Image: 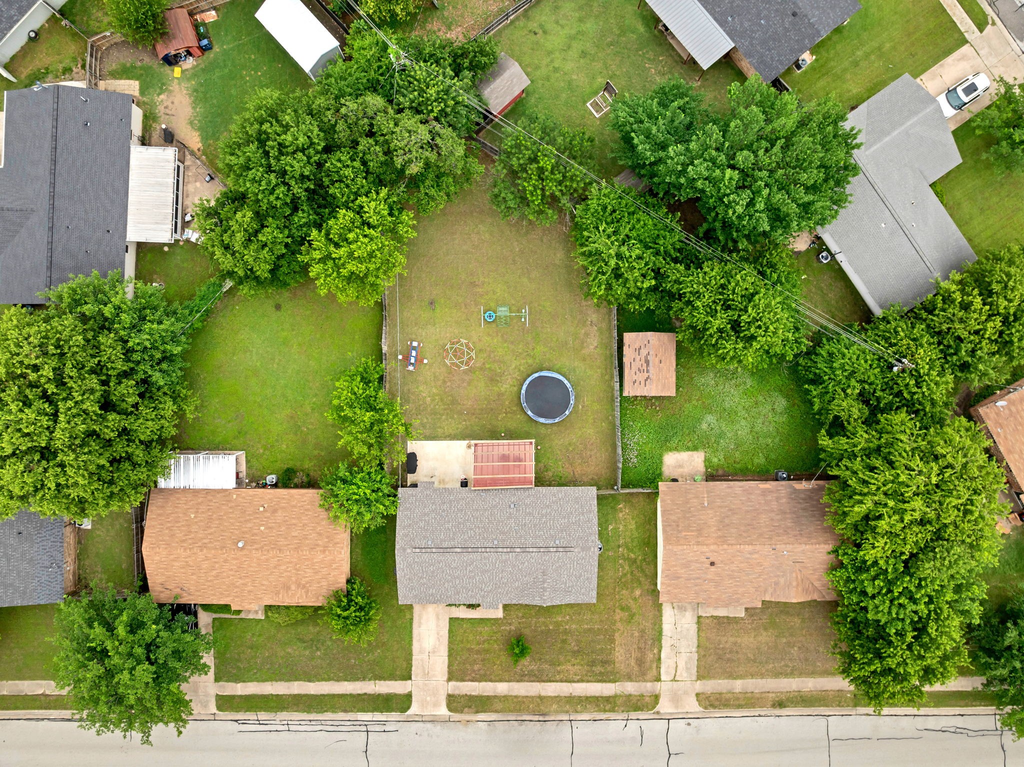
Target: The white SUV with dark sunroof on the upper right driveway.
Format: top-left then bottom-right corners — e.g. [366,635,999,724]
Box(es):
[938,73,991,123]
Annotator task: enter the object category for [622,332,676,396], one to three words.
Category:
shed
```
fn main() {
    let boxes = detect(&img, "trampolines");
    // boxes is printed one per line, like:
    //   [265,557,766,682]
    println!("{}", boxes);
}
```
[521,370,575,424]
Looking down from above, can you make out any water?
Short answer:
No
